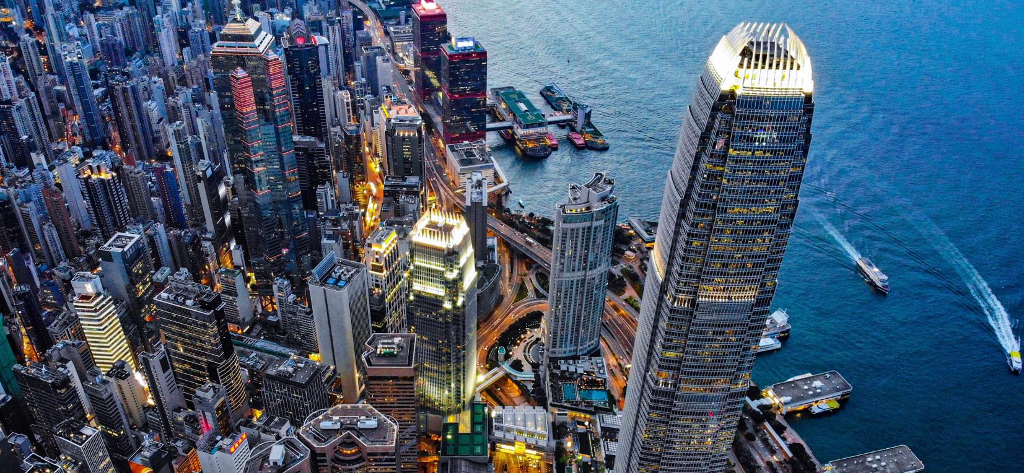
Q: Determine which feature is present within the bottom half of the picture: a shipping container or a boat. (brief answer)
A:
boat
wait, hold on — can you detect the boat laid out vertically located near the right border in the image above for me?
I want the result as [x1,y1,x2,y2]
[1006,347,1022,374]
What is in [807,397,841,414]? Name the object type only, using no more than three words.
boat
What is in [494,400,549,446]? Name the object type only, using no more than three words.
building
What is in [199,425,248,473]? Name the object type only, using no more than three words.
building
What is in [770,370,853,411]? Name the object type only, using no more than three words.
pier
